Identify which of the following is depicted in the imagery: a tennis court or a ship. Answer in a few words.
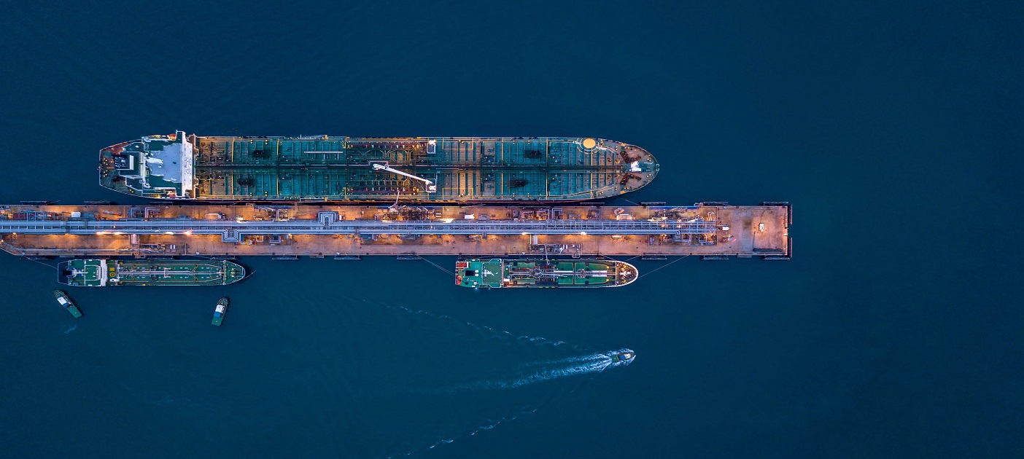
ship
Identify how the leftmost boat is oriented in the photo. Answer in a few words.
on a diagonal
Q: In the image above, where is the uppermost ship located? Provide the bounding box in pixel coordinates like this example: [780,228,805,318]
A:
[98,130,660,202]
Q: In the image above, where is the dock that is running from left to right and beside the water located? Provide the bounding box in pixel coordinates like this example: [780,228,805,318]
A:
[0,201,792,260]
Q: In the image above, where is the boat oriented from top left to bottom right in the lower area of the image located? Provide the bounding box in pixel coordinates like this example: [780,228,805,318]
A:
[55,291,81,319]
